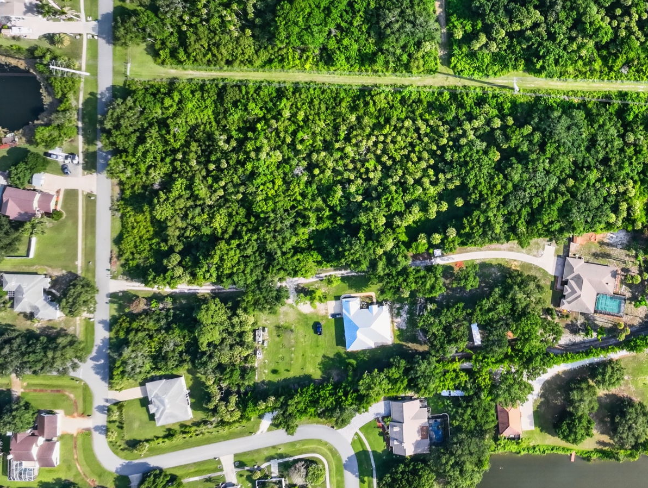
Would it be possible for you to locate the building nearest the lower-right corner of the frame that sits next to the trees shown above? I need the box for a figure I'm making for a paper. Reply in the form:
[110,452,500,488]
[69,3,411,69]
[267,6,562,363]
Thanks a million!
[498,399,522,439]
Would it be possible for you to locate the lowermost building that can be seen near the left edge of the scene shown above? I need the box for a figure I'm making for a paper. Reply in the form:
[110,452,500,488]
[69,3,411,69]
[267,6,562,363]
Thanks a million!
[10,413,61,466]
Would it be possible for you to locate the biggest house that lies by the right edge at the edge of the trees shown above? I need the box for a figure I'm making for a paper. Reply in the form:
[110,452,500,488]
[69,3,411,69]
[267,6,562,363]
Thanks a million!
[560,256,618,313]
